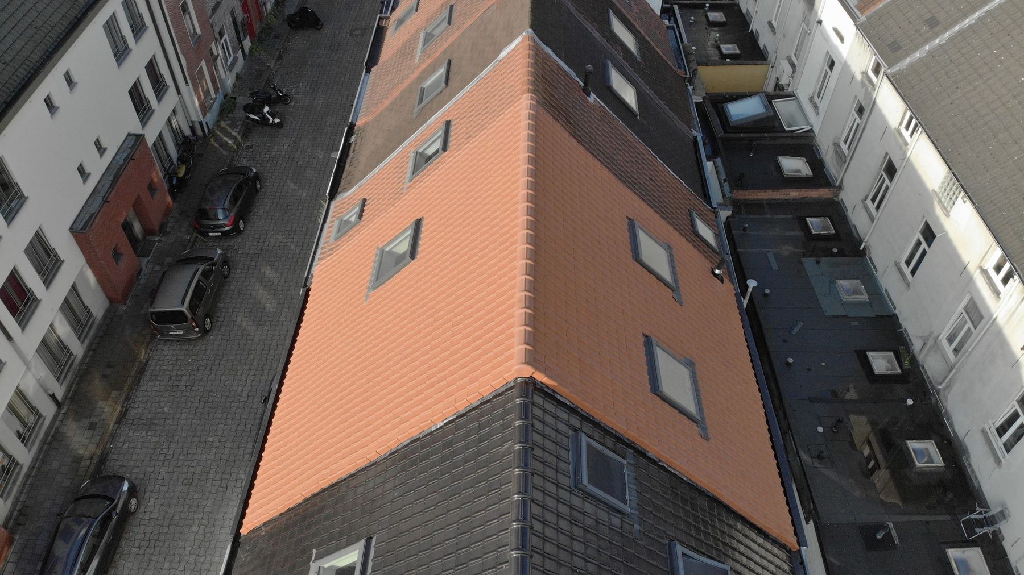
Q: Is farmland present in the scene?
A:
No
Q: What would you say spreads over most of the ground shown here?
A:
buildings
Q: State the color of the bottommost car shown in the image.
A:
black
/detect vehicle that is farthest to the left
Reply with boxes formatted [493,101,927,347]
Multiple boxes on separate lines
[23,467,140,575]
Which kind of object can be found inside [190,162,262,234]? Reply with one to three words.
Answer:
car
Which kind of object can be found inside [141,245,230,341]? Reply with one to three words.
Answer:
car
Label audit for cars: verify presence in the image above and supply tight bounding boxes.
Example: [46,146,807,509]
[23,467,140,575]
[190,162,262,234]
[141,245,230,341]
